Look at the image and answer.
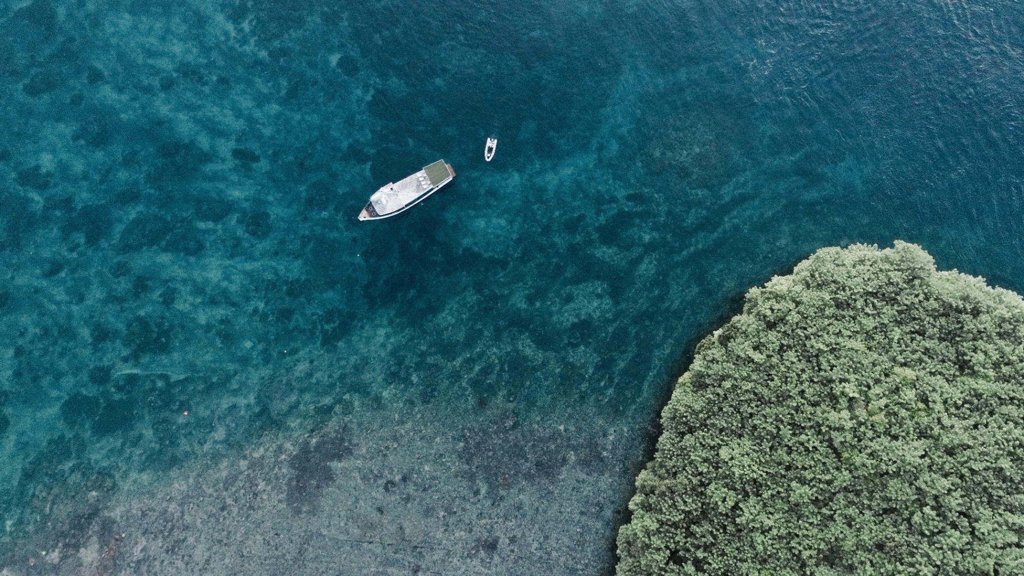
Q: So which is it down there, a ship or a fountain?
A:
ship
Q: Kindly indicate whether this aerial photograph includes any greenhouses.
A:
No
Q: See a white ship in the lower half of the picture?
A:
No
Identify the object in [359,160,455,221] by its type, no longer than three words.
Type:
ship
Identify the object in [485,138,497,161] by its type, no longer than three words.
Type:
boat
